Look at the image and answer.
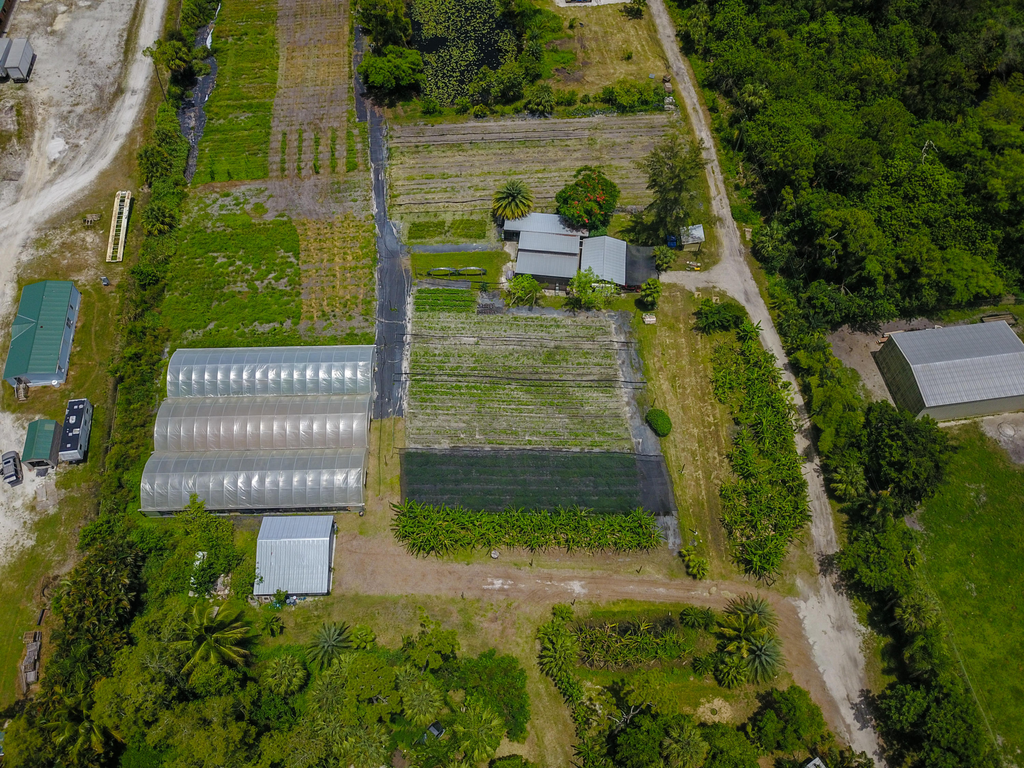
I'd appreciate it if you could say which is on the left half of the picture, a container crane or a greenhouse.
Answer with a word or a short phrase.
greenhouse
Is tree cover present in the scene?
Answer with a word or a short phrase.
Yes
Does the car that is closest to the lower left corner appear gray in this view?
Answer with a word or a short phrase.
Yes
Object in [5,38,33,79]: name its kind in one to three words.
trailer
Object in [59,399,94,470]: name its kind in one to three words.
camper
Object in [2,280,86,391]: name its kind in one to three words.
house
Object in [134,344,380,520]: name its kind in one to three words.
greenhouse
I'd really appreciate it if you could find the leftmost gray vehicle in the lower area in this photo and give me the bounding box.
[0,449,20,488]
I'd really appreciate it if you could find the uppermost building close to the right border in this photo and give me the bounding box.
[880,320,1024,419]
